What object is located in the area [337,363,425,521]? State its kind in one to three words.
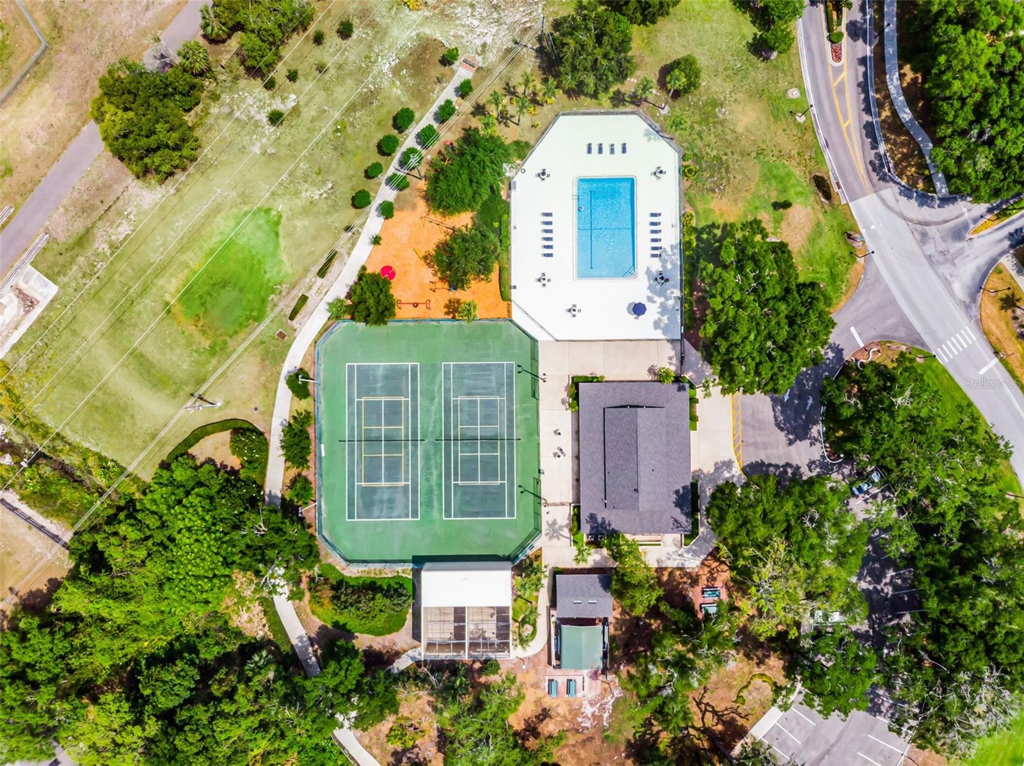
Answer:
tennis court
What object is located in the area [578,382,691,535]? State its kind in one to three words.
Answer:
building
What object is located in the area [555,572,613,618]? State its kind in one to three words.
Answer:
building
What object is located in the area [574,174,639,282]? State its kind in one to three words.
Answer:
swimming pool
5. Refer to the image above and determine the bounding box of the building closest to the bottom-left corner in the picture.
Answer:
[420,559,511,660]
